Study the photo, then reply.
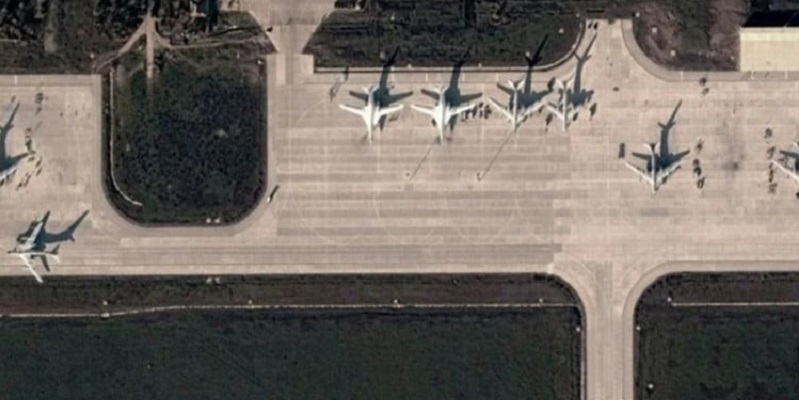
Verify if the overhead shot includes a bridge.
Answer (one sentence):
No, there is no bridge in the image.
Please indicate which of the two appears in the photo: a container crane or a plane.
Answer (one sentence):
I can see a plane in this picture.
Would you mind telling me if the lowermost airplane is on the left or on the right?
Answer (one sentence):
You can find the lowermost airplane on the left side of the picture.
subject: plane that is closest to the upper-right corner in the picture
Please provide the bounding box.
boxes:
[772,141,799,192]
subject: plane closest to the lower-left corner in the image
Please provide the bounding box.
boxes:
[9,221,61,281]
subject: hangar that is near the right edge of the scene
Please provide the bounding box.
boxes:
[740,26,799,71]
